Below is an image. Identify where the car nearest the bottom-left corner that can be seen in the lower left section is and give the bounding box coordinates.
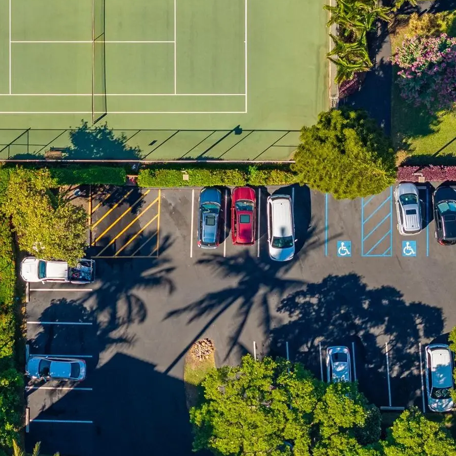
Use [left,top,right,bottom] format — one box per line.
[25,355,86,382]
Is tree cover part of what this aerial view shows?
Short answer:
Yes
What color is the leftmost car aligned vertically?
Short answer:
blue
